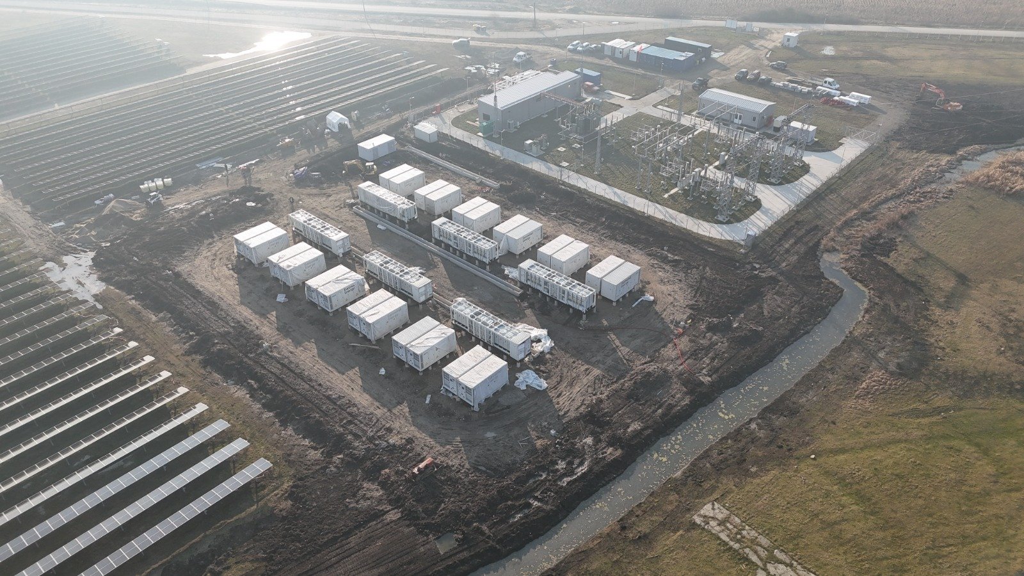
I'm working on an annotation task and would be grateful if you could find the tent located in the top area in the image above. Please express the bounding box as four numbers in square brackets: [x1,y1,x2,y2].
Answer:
[322,109,350,132]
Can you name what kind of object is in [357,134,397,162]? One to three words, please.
building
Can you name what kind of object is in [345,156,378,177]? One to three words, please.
work vehicle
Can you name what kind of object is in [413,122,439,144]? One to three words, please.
shed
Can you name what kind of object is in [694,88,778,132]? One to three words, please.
building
